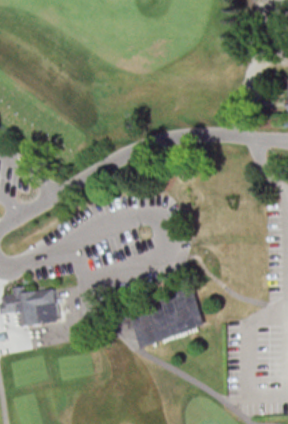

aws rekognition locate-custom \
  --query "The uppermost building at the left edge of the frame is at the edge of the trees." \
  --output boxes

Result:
[0,285,68,329]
